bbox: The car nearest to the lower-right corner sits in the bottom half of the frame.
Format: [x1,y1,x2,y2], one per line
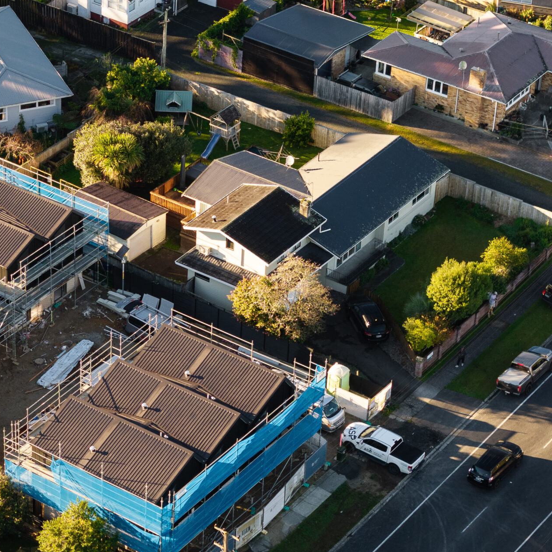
[465,439,526,492]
